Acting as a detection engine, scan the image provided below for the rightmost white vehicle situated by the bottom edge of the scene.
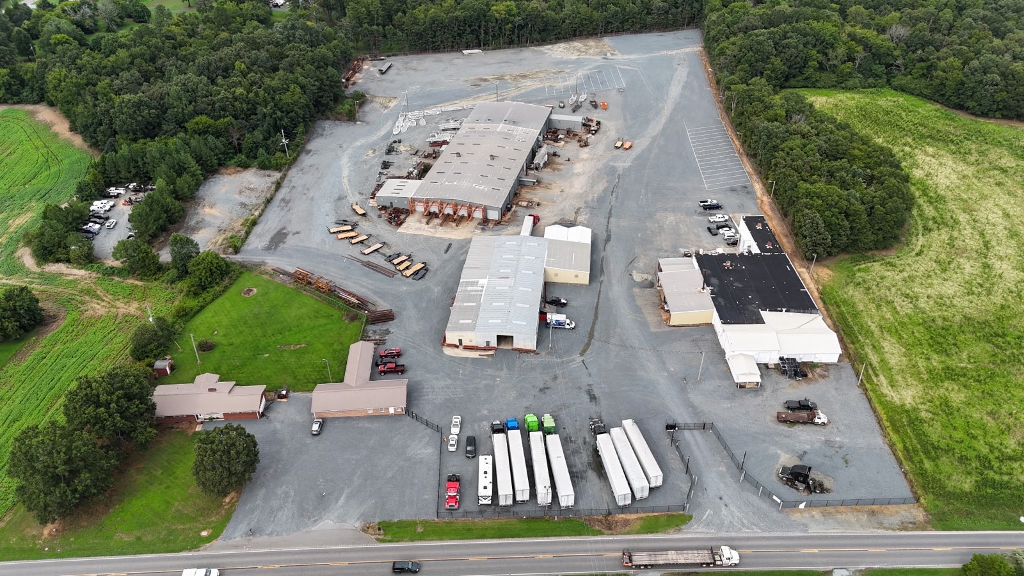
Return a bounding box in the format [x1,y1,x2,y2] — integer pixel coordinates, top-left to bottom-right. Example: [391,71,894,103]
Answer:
[700,547,740,568]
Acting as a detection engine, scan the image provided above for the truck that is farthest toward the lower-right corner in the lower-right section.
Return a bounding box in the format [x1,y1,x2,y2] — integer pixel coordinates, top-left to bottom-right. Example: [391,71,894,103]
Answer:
[781,468,825,496]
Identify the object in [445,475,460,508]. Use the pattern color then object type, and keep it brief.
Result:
red vehicle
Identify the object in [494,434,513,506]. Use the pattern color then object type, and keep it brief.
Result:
white trailer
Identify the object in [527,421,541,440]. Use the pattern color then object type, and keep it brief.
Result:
green vehicle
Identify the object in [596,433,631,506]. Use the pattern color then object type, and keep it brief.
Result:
white trailer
